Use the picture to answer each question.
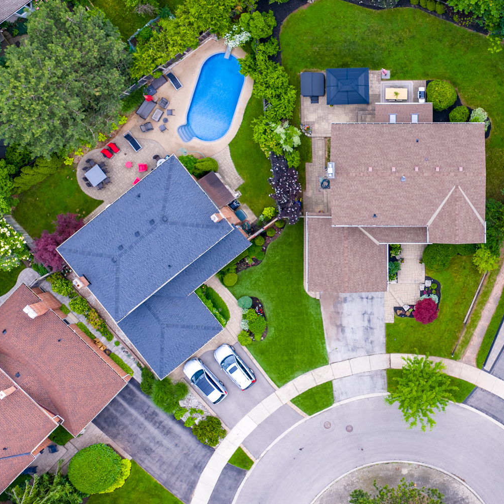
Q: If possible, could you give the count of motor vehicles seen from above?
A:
2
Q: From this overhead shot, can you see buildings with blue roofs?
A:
Yes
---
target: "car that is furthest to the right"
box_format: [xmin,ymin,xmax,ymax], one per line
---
[216,343,256,393]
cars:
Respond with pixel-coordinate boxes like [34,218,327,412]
[216,343,256,393]
[184,358,228,406]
